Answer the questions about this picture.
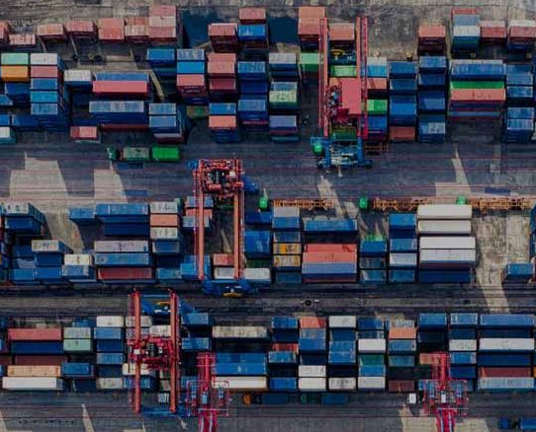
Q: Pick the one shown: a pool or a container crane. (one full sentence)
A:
There is a container crane in the scene.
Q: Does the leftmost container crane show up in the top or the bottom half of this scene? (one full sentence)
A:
The leftmost container crane is in the bottom half of the image.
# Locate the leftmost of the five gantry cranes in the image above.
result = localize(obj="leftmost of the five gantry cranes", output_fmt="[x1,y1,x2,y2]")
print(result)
[128,291,197,423]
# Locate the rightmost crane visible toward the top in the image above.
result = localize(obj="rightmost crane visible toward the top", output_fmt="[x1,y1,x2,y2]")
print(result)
[310,18,374,169]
